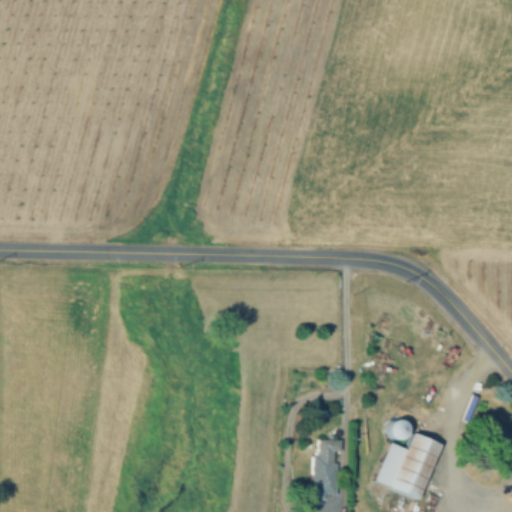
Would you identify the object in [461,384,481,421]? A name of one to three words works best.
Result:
vehicle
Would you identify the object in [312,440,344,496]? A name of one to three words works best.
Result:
house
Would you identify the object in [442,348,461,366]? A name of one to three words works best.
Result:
work vehicle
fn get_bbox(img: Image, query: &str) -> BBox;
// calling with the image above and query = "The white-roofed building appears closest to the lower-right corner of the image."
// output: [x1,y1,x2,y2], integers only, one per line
[374,433,443,500]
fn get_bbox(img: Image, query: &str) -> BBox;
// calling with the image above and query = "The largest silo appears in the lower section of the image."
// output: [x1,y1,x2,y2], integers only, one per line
[385,419,412,440]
